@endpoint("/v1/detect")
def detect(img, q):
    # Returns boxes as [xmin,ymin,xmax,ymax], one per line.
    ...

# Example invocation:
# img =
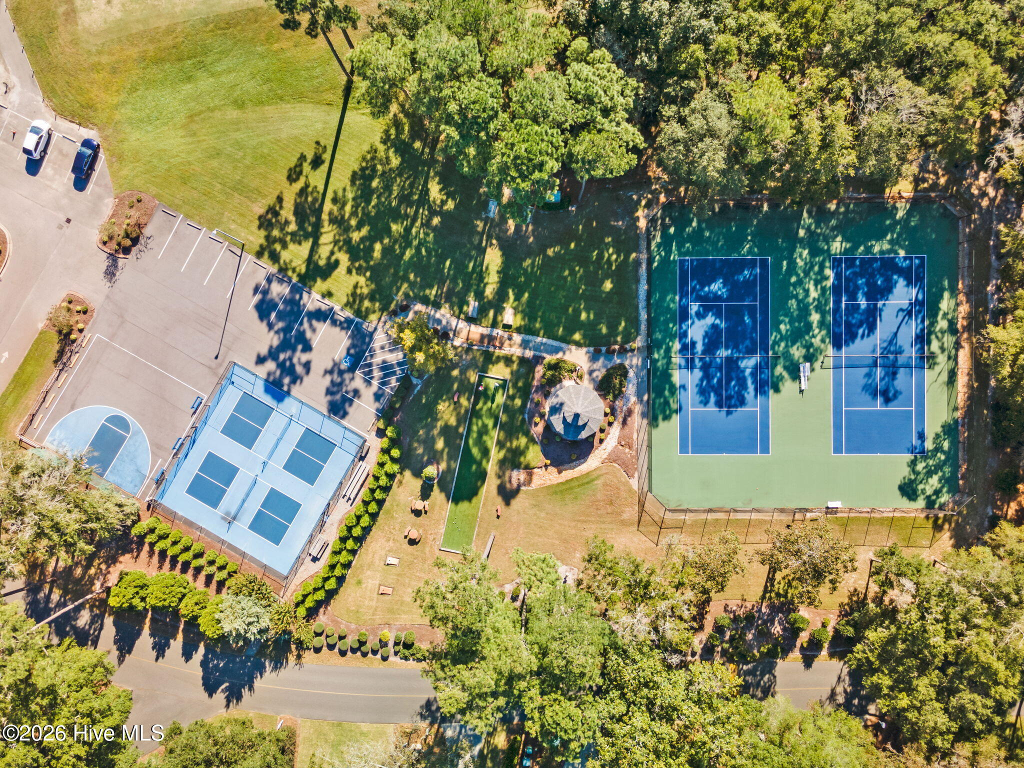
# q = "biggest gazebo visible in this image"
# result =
[548,384,604,441]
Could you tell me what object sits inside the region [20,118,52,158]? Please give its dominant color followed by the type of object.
white car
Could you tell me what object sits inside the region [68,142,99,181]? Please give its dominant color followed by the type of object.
blue car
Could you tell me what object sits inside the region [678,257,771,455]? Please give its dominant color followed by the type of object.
blue tennis court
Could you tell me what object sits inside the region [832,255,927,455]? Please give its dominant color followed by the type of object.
blue tennis court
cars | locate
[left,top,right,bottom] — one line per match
[20,118,52,158]
[68,142,99,181]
